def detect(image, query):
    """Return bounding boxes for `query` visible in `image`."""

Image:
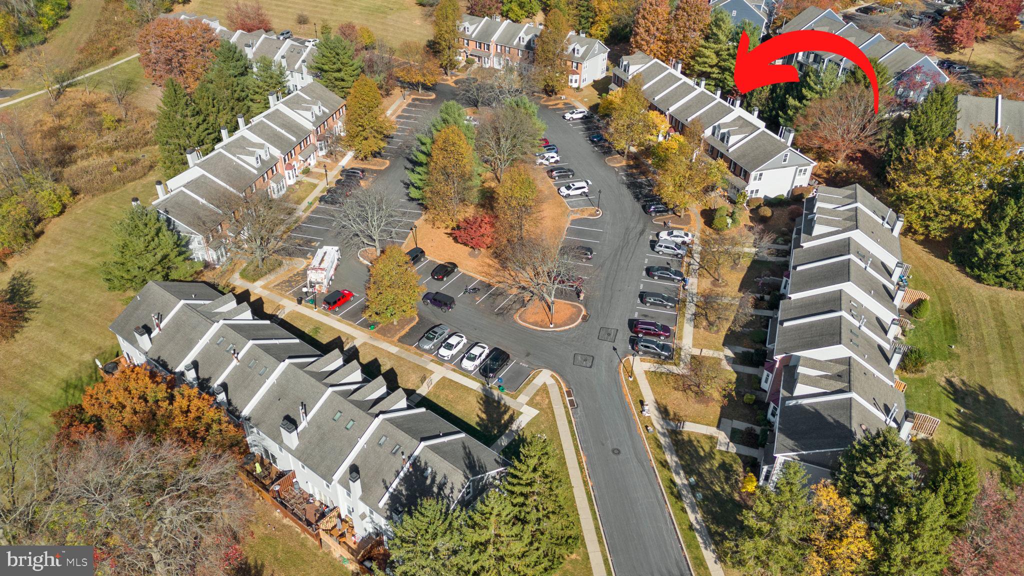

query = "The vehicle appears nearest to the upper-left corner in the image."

[277,27,292,39]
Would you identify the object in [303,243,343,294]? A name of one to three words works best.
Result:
truck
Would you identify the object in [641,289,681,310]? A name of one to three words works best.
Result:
car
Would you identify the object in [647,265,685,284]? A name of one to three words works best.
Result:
car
